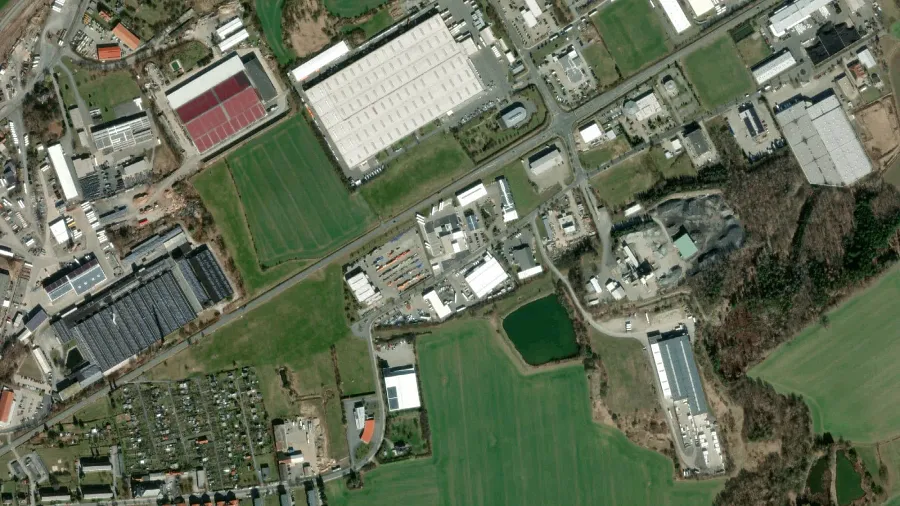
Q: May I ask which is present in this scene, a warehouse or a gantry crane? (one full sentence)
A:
Visible in the photo is a warehouse.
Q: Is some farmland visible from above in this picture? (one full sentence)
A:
Yes, farmland shows up in the scene.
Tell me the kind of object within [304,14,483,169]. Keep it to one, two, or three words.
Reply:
warehouse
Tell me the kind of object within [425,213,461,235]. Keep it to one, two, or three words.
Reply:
building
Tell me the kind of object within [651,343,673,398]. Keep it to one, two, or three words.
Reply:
building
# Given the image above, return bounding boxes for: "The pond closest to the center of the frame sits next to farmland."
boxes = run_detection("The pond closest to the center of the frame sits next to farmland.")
[504,294,578,365]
